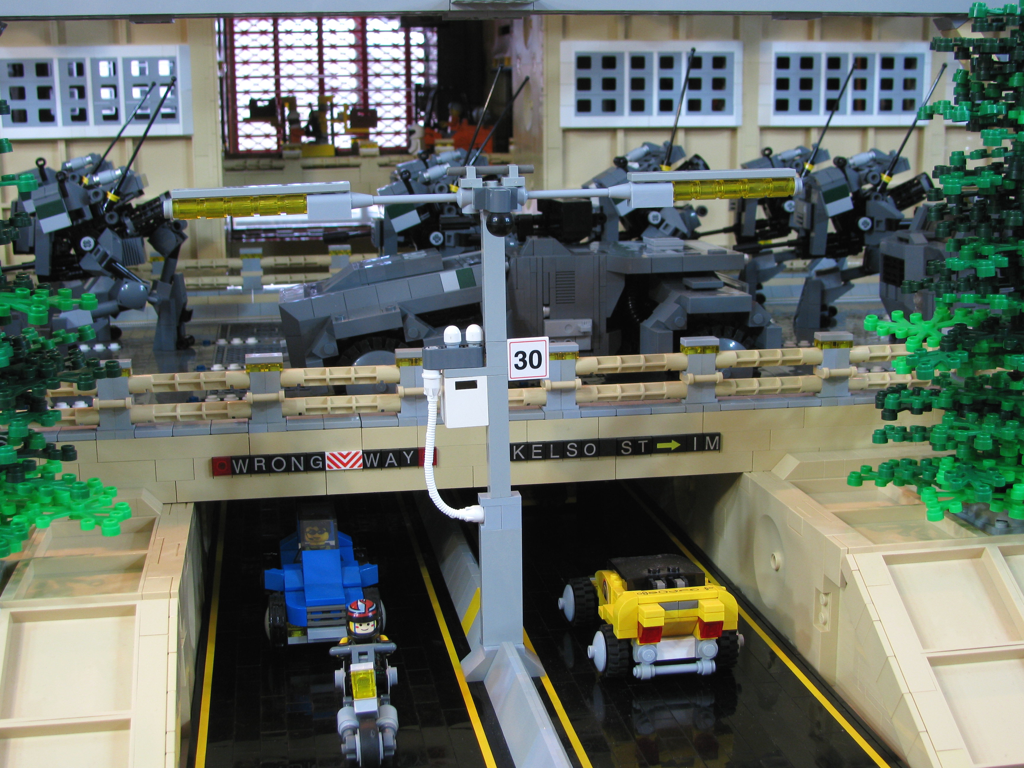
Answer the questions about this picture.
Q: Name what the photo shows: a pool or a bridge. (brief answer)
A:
bridge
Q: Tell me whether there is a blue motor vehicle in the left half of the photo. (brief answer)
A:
Yes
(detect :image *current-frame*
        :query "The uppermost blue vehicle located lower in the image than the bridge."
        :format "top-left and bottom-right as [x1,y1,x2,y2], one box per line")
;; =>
[259,504,389,641]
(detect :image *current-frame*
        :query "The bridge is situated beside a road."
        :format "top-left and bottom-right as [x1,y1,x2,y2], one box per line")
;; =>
[21,389,1022,503]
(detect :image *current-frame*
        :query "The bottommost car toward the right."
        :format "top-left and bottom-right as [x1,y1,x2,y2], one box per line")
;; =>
[557,544,750,676]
